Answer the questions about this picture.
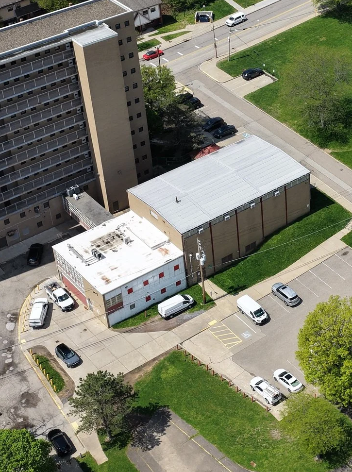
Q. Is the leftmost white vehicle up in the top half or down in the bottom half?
bottom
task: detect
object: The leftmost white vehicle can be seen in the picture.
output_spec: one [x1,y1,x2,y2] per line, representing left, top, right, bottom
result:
[30,296,50,327]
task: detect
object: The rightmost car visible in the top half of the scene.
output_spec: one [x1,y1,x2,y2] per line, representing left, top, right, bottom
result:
[242,68,264,81]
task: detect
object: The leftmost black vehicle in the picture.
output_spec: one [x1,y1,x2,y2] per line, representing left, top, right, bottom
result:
[27,243,44,267]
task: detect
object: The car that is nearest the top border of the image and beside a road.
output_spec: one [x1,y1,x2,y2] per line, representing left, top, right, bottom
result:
[226,11,247,25]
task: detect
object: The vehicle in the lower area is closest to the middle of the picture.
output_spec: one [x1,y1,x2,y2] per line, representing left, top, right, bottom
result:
[154,291,197,317]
